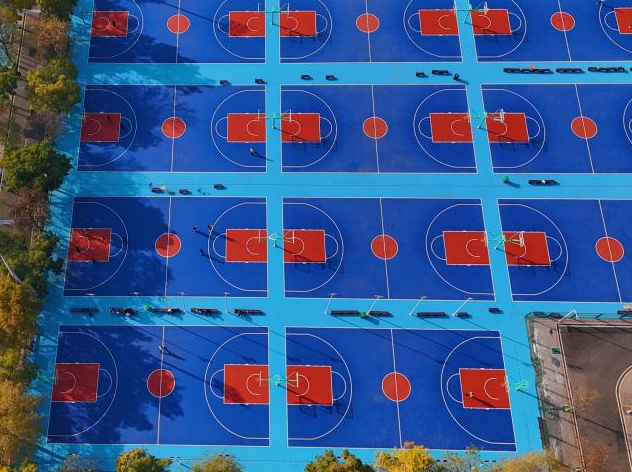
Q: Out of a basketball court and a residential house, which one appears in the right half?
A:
basketball court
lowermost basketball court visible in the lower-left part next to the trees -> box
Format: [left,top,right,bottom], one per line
[46,325,269,446]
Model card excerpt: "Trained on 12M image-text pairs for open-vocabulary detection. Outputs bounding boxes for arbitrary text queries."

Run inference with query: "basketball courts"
[482,84,632,173]
[76,85,267,173]
[285,328,516,451]
[281,84,478,173]
[62,197,268,299]
[499,198,632,302]
[280,0,463,63]
[46,325,269,446]
[88,0,267,64]
[283,197,495,301]
[470,0,632,62]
